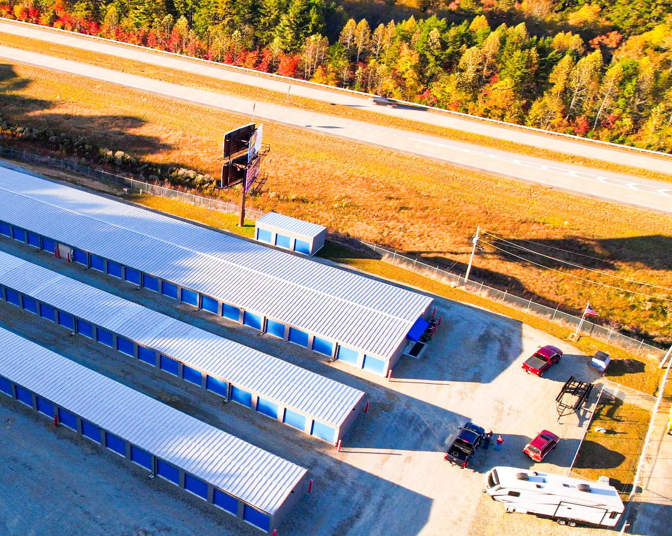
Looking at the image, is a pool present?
No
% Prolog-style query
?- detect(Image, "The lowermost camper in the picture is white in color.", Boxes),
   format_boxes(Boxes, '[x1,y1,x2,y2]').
[488,468,627,532]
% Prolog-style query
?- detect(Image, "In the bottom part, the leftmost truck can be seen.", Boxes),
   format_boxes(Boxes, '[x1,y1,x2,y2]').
[440,422,483,469]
